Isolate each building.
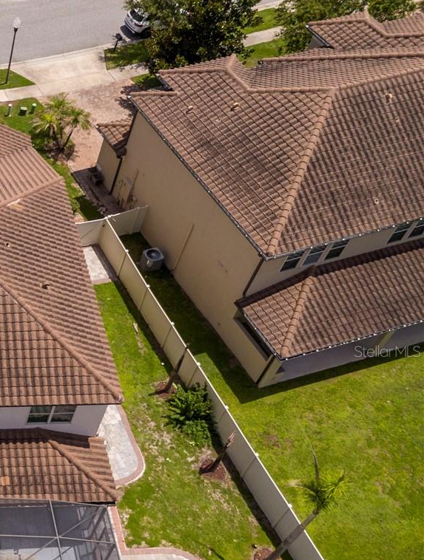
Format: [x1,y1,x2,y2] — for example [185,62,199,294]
[87,6,424,391]
[0,136,125,532]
